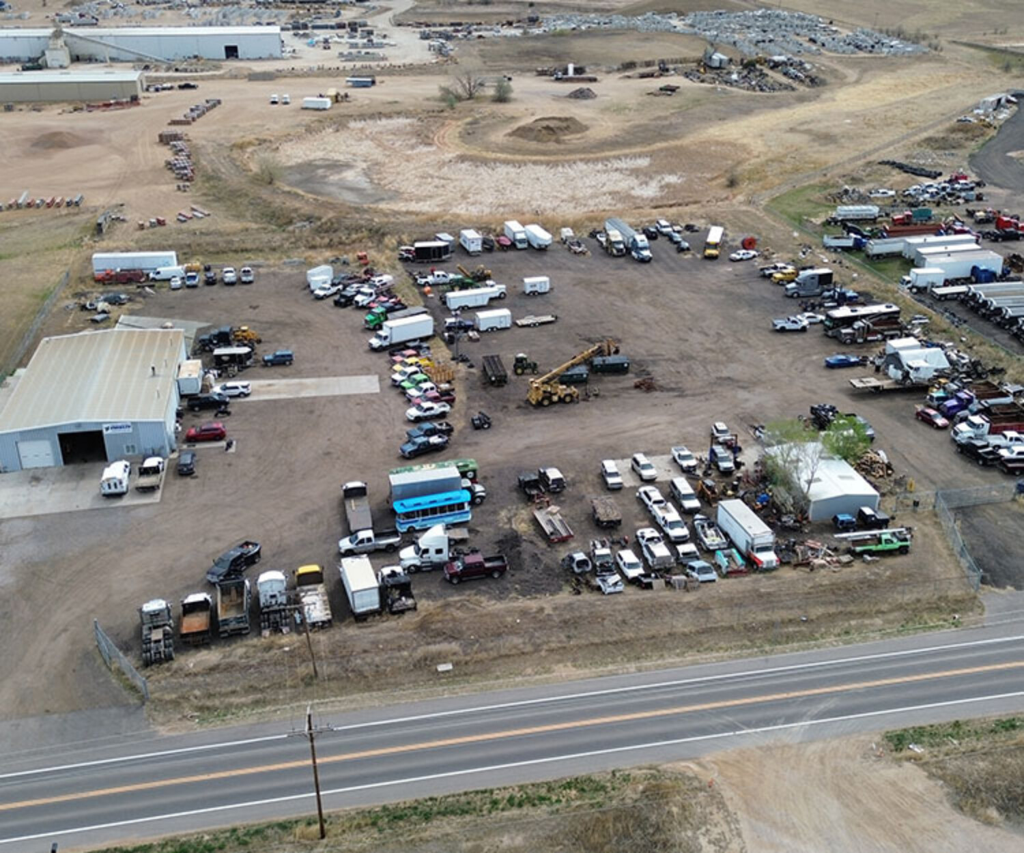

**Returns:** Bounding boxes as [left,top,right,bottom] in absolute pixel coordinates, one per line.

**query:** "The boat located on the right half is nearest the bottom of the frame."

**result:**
[692,516,729,560]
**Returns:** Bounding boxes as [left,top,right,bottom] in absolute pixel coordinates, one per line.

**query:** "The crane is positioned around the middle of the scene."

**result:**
[528,339,618,403]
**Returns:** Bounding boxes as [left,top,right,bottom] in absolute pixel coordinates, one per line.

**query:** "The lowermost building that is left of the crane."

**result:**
[0,327,195,476]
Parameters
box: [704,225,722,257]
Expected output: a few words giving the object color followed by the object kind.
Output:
white vehicle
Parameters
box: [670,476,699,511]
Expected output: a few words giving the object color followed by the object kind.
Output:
white car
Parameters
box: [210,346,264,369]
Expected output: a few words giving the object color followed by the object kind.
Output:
black trailer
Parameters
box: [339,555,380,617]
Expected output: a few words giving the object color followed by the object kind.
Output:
white truck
